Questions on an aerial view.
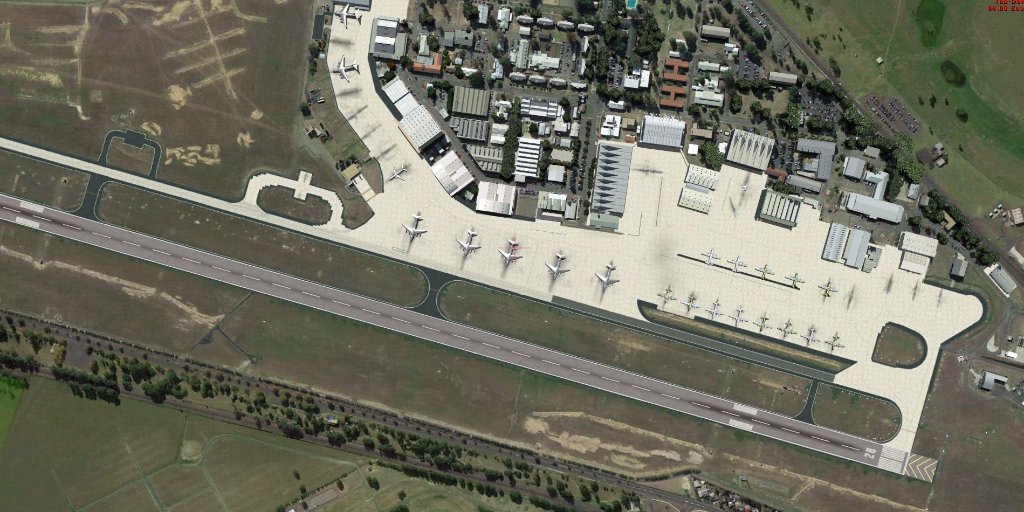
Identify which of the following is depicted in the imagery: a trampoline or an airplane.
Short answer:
airplane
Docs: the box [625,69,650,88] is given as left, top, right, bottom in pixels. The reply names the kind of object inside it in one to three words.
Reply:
building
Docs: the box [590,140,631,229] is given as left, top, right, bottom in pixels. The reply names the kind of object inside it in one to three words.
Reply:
hangar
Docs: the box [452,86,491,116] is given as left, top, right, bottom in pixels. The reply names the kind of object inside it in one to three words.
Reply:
building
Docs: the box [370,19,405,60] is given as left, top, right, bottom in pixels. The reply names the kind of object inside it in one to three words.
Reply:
hangar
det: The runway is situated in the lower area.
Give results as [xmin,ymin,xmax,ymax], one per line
[0,192,913,476]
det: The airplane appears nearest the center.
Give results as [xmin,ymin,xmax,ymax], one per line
[499,241,524,269]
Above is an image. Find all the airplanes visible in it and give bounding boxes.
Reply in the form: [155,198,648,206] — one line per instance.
[753,314,772,329]
[825,335,844,350]
[681,296,700,311]
[706,301,726,316]
[756,265,775,280]
[389,166,406,180]
[728,257,747,272]
[801,330,821,344]
[403,214,427,242]
[656,289,675,304]
[819,282,839,297]
[730,308,749,323]
[701,250,721,265]
[332,56,360,81]
[596,265,621,293]
[546,254,571,282]
[458,231,483,259]
[786,274,805,288]
[776,322,796,337]
[499,241,524,269]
